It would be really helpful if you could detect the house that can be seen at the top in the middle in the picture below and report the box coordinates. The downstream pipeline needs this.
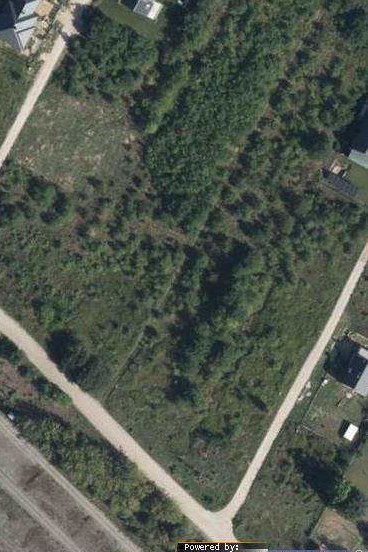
[134,0,166,20]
